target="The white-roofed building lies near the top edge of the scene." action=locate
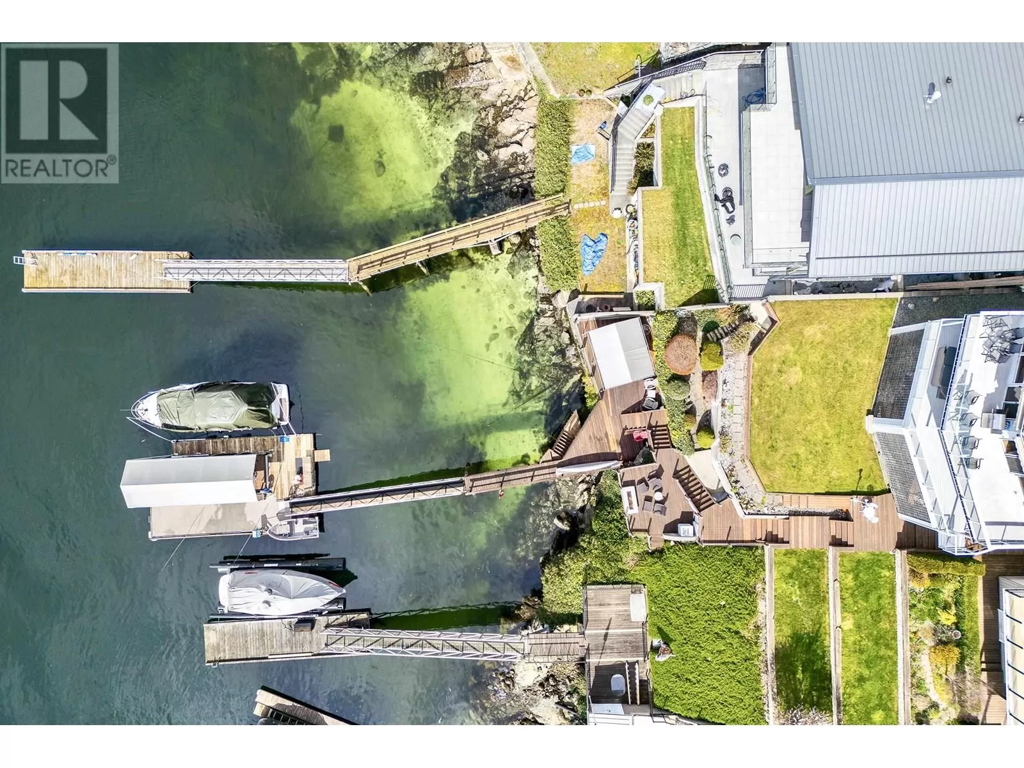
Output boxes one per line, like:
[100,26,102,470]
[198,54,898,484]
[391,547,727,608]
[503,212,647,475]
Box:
[741,0,1024,280]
